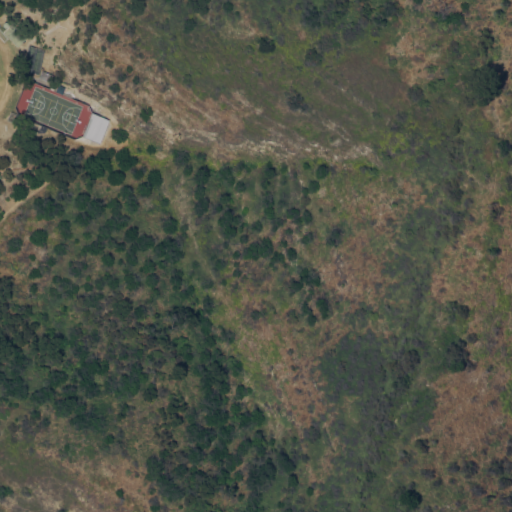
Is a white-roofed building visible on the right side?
No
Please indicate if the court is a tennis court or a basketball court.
basketball court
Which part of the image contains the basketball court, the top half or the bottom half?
top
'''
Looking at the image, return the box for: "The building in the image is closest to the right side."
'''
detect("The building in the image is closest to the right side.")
[83,114,110,143]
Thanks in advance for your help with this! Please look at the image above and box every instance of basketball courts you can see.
[17,82,92,138]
